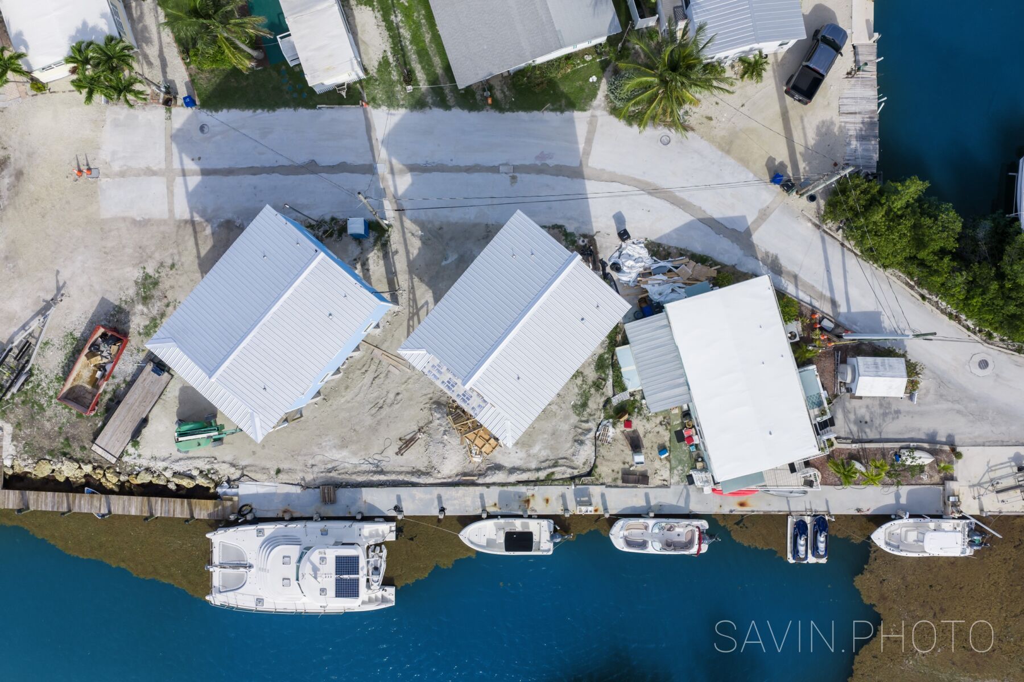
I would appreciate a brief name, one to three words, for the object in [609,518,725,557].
boat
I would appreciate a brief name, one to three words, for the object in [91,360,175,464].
trailer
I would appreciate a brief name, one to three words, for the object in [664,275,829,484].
house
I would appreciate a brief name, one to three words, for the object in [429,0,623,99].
house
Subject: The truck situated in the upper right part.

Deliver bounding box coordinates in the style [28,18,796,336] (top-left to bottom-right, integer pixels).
[780,18,850,112]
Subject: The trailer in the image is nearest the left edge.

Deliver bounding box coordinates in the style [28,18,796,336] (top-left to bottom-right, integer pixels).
[0,297,63,402]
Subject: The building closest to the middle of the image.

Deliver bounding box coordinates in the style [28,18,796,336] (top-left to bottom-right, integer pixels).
[399,210,631,447]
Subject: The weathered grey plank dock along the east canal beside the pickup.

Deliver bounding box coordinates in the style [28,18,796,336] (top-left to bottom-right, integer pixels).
[838,42,879,172]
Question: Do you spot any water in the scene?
Yes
